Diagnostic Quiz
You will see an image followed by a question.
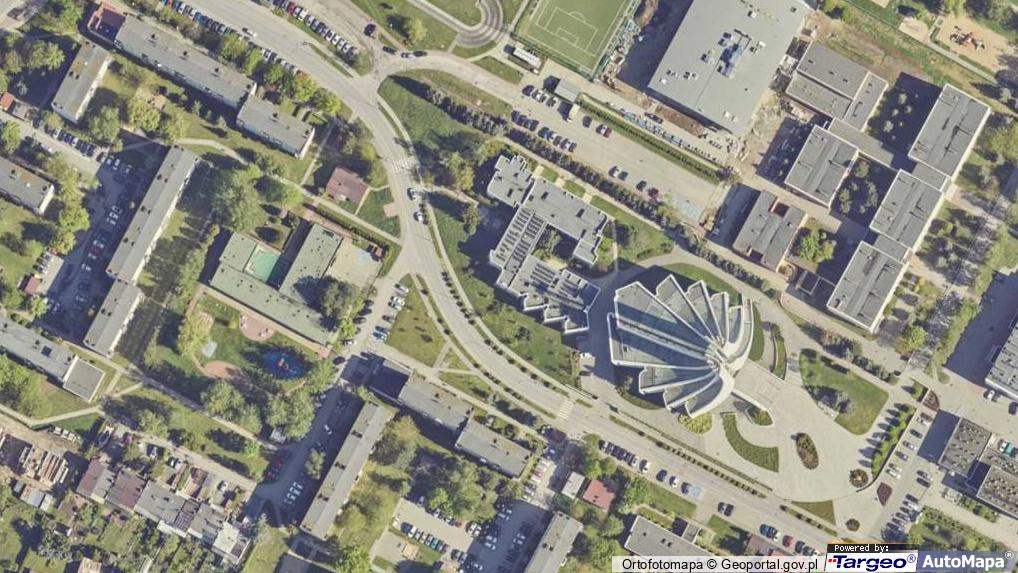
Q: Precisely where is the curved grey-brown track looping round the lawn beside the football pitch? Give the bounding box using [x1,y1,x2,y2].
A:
[405,0,501,45]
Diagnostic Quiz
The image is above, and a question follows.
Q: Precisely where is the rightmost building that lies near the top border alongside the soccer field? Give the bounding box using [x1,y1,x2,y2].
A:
[648,0,817,140]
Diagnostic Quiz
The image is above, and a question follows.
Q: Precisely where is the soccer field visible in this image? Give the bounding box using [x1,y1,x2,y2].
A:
[517,0,632,74]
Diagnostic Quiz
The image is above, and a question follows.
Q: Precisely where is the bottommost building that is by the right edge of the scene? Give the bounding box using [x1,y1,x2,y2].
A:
[977,467,1018,519]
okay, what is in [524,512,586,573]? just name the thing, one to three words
building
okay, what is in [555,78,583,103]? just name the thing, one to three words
shed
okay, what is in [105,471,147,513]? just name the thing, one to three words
house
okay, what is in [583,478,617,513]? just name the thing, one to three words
house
